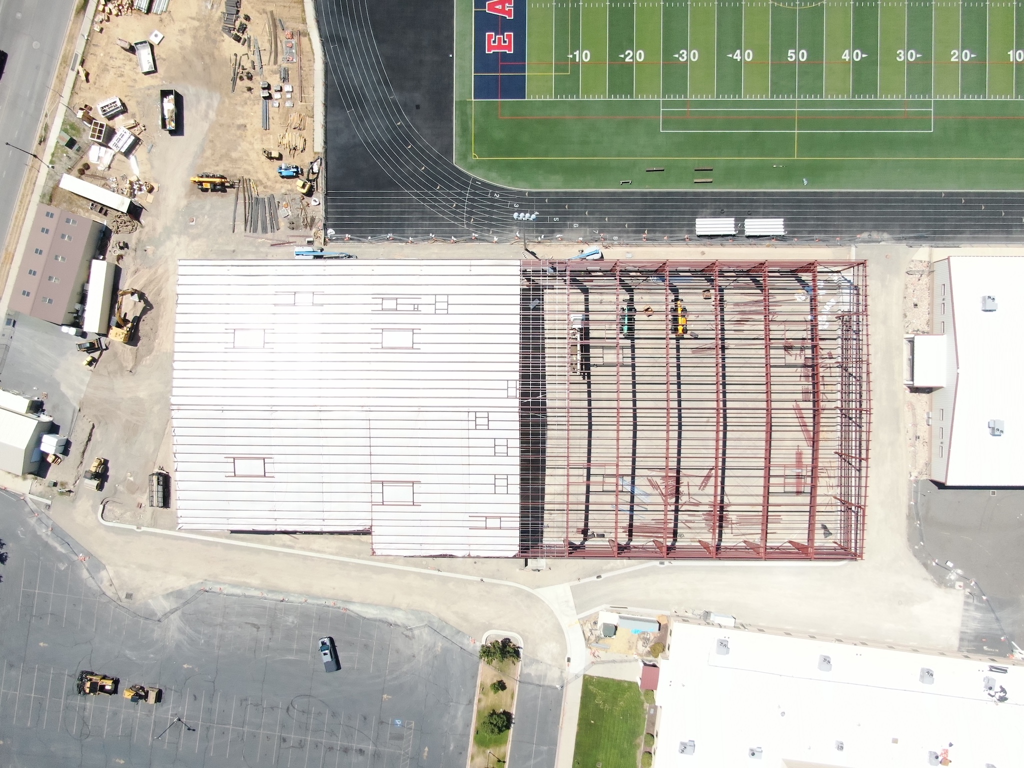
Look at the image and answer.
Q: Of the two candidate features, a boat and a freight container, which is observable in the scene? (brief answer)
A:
freight container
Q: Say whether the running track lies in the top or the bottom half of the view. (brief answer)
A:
top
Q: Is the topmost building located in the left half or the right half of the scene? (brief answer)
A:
left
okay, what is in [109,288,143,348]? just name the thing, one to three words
work vehicle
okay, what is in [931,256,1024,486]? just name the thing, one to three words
building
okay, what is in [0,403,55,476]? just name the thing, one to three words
shed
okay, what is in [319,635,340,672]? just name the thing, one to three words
truck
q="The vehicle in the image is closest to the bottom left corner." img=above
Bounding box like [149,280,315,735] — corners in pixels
[125,685,162,703]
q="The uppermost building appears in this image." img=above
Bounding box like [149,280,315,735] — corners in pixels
[7,203,105,326]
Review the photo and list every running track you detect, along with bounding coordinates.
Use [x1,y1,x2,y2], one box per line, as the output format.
[315,0,1024,246]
